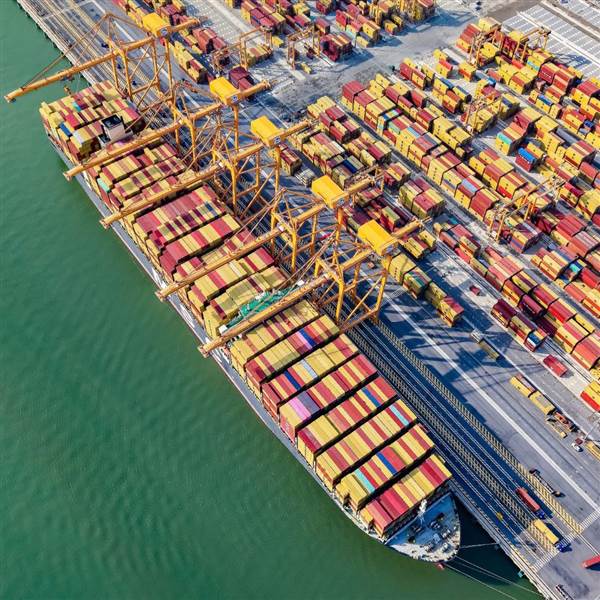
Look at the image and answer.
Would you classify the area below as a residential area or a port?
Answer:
port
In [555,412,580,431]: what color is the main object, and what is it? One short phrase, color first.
red work vehicle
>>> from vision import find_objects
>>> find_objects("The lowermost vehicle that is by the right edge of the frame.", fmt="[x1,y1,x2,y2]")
[547,578,570,600]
